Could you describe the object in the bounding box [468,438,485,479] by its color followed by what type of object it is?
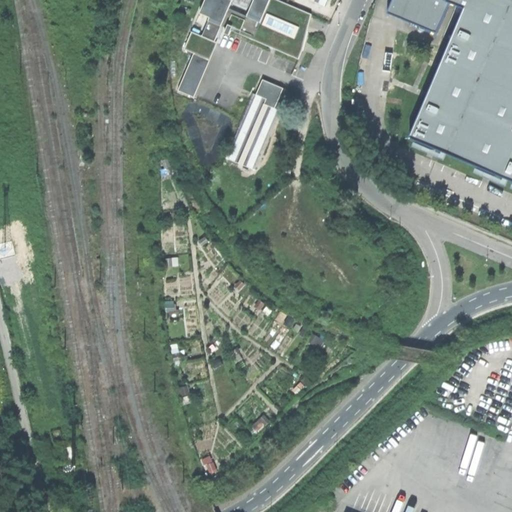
white vehicle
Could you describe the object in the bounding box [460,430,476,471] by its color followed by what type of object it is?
white vehicle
